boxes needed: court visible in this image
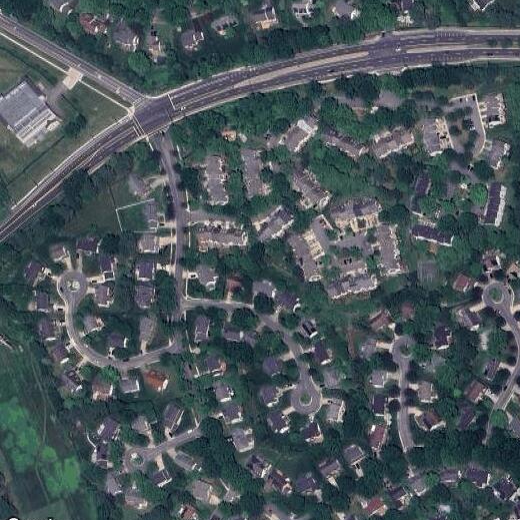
[418,260,439,285]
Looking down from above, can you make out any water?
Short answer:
No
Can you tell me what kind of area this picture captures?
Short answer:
residential area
